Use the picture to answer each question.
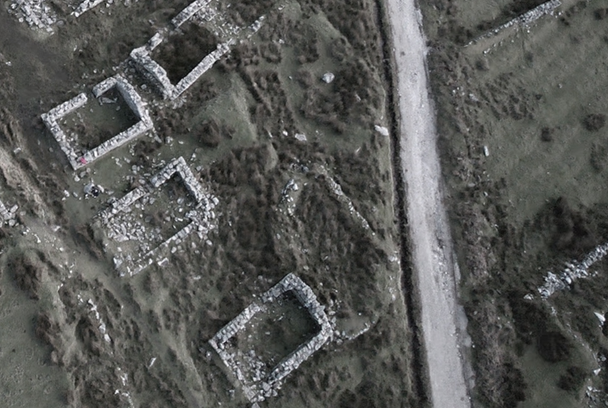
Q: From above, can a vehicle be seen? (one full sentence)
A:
No, there is no vehicle in the image.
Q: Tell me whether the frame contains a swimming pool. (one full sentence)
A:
No, the picture doesn't show any swimming pool.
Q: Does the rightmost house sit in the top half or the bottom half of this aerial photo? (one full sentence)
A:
You can find the rightmost house in the bottom half.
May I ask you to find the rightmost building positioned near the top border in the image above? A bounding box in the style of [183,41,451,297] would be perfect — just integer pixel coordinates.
[124,0,267,107]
